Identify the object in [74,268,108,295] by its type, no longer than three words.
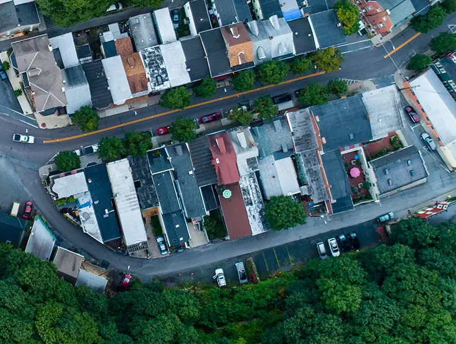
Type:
shed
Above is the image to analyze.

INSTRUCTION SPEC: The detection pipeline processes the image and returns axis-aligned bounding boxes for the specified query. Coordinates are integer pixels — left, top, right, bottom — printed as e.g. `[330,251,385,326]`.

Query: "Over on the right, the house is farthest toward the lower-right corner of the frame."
[413,198,456,228]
